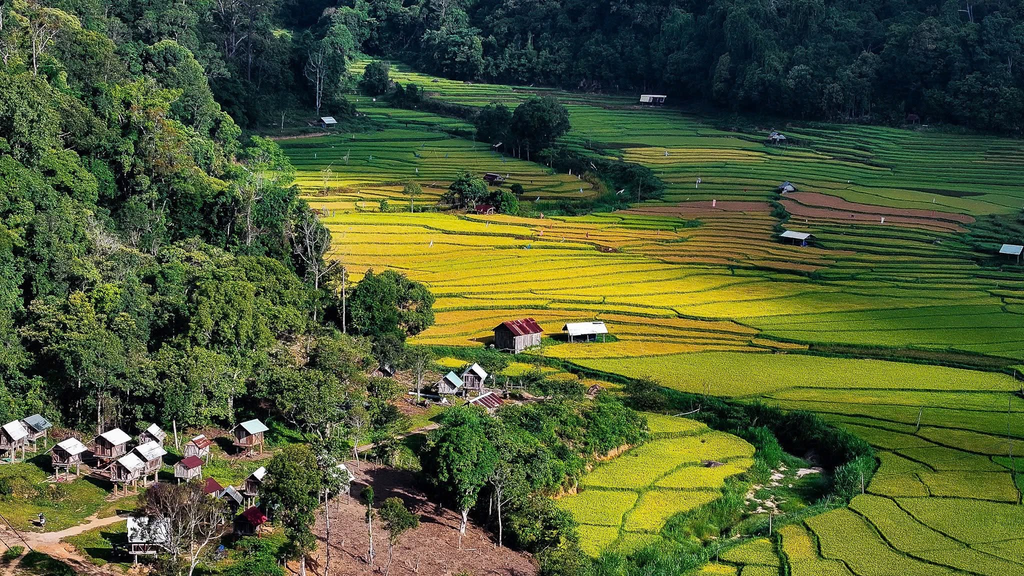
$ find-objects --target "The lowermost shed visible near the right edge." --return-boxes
[989,240,1020,263]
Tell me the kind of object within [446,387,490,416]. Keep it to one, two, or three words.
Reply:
shed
